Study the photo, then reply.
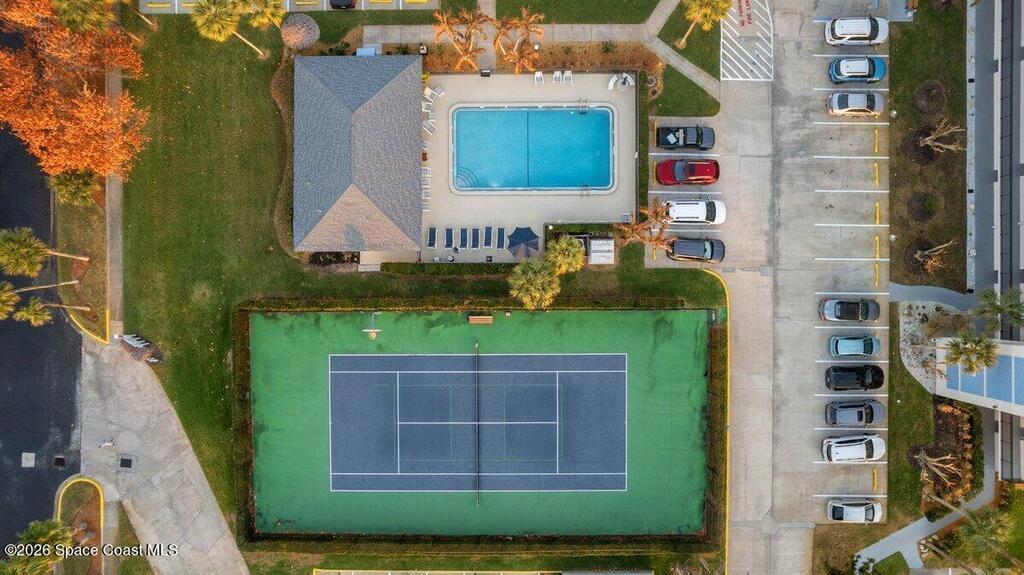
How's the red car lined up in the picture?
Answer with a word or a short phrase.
from side to side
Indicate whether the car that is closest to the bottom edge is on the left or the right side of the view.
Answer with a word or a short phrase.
right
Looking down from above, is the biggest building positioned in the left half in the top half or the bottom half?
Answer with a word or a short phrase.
top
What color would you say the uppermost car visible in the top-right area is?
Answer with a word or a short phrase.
white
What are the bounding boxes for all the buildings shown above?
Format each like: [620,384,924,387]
[590,239,616,264]
[293,48,422,251]
[994,0,1024,491]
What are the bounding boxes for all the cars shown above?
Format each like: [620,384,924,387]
[819,296,879,324]
[820,431,885,460]
[824,397,885,425]
[824,14,888,46]
[826,494,881,522]
[332,0,356,8]
[666,235,724,264]
[657,155,719,185]
[827,90,885,118]
[828,55,886,85]
[829,333,880,359]
[825,363,884,392]
[663,196,726,226]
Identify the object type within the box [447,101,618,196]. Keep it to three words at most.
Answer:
swimming pool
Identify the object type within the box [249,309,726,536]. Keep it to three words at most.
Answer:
tennis court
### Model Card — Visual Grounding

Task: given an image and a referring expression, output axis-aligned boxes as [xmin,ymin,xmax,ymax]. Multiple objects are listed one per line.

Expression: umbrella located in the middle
[505,228,540,257]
